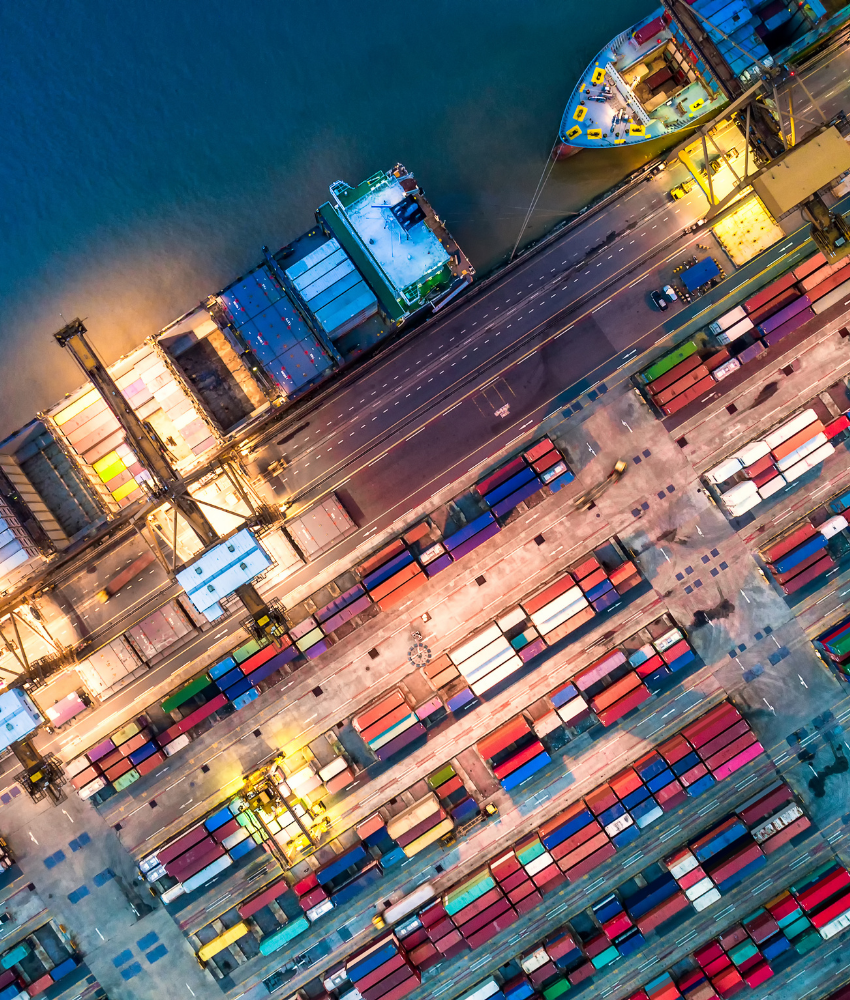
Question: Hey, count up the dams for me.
zero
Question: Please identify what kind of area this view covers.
port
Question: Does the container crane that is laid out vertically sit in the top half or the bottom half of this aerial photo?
bottom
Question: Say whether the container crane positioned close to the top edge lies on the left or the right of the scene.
right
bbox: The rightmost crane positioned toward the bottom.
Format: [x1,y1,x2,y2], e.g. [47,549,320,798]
[242,753,329,870]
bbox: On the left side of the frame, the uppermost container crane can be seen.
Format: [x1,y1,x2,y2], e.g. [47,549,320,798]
[47,320,296,658]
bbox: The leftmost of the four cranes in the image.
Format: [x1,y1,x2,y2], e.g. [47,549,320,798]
[0,569,105,810]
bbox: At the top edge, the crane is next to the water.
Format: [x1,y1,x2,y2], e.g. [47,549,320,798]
[645,0,850,266]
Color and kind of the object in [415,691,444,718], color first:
pink shipping container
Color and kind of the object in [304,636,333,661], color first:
purple shipping container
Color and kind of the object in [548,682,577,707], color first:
blue shipping container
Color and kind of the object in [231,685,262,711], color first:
blue shipping container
